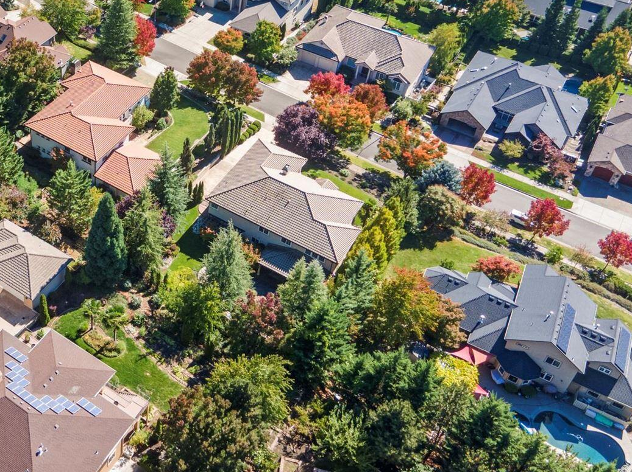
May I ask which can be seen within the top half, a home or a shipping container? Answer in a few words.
home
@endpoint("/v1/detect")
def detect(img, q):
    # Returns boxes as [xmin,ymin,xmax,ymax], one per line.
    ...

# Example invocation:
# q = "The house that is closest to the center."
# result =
[206,137,365,279]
